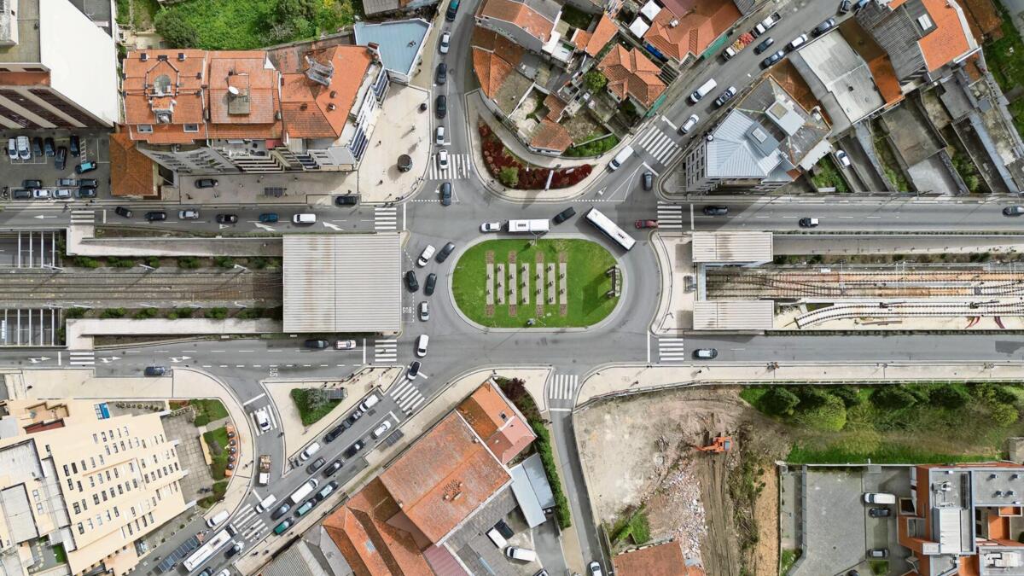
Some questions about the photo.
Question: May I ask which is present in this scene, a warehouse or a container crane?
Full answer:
It is a warehouse that can be seen here.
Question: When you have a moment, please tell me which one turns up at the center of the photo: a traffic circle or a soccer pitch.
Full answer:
Looking at the center of the photo, you will find a traffic circle.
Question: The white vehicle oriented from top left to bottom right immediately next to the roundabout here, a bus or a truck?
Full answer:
The white vehicle oriented from top left to bottom right immediately next to the roundabout can be classified as a bus.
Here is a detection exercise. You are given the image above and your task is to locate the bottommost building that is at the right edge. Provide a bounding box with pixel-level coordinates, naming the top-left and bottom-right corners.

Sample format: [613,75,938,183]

[894,463,1024,576]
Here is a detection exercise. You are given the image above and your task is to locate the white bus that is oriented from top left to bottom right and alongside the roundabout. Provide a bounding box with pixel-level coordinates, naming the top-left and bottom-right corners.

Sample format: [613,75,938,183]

[582,205,638,253]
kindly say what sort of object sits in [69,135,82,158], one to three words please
vehicle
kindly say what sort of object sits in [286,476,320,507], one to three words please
truck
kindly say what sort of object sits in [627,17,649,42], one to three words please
gazebo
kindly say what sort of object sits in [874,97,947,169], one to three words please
building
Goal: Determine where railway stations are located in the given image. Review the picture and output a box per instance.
[280,233,403,333]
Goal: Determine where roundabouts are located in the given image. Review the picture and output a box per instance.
[447,233,628,332]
